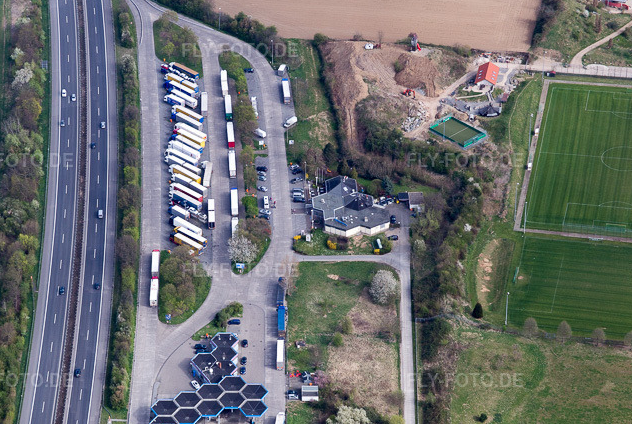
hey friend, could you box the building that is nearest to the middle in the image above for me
[312,176,389,237]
